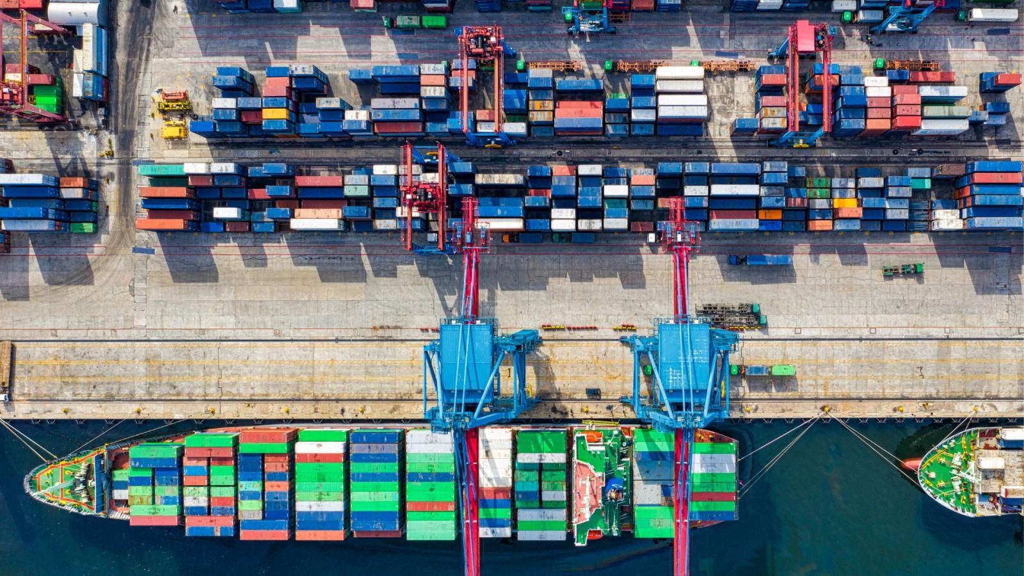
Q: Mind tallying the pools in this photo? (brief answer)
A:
none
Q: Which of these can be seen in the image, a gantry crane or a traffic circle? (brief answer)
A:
gantry crane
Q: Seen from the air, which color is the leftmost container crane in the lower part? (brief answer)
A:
blue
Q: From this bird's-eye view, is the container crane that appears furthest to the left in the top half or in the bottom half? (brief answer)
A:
top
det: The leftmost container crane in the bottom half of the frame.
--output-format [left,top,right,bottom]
[419,197,547,576]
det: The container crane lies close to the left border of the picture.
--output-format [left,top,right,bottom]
[0,2,81,133]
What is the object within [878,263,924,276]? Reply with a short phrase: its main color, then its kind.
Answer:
green vehicle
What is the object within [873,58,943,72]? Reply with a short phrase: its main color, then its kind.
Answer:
green vehicle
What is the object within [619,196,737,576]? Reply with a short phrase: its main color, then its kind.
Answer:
blue container crane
